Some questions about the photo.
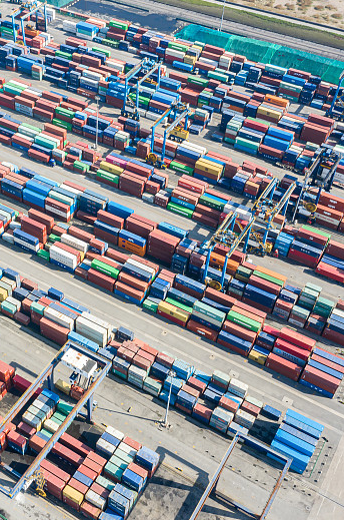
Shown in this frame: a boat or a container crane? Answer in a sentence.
Of the two, only a container crane appears.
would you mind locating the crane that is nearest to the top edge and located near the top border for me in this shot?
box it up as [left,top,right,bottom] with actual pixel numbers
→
[10,0,47,52]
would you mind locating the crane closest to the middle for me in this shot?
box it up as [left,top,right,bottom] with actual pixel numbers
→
[193,212,253,297]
